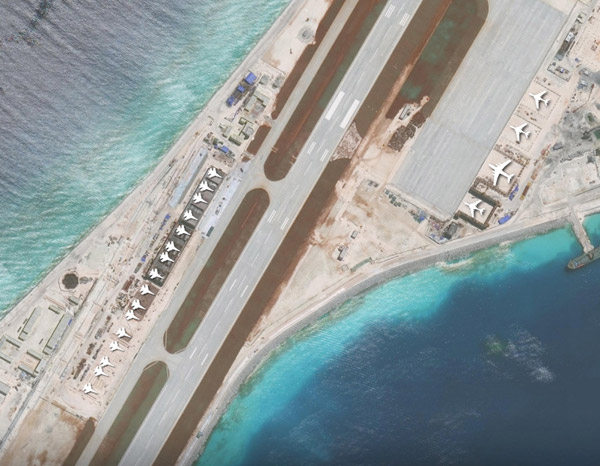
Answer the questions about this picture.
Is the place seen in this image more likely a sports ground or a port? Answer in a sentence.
The picture captures a port.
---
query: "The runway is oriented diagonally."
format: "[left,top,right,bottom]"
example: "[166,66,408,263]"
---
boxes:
[118,0,422,466]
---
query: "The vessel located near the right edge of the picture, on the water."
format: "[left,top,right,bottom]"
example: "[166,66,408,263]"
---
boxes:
[570,248,600,269]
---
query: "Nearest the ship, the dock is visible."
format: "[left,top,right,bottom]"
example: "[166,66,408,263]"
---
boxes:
[571,216,594,253]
